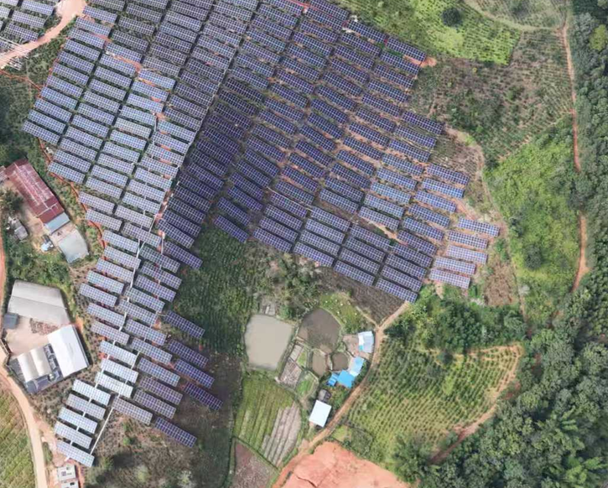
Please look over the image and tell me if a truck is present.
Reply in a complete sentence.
No, there isn't any truck down there.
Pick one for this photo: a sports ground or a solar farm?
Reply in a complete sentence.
What you see here is a solar farm.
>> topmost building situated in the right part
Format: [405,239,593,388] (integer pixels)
[356,332,374,353]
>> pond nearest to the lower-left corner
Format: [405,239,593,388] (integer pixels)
[245,314,295,370]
